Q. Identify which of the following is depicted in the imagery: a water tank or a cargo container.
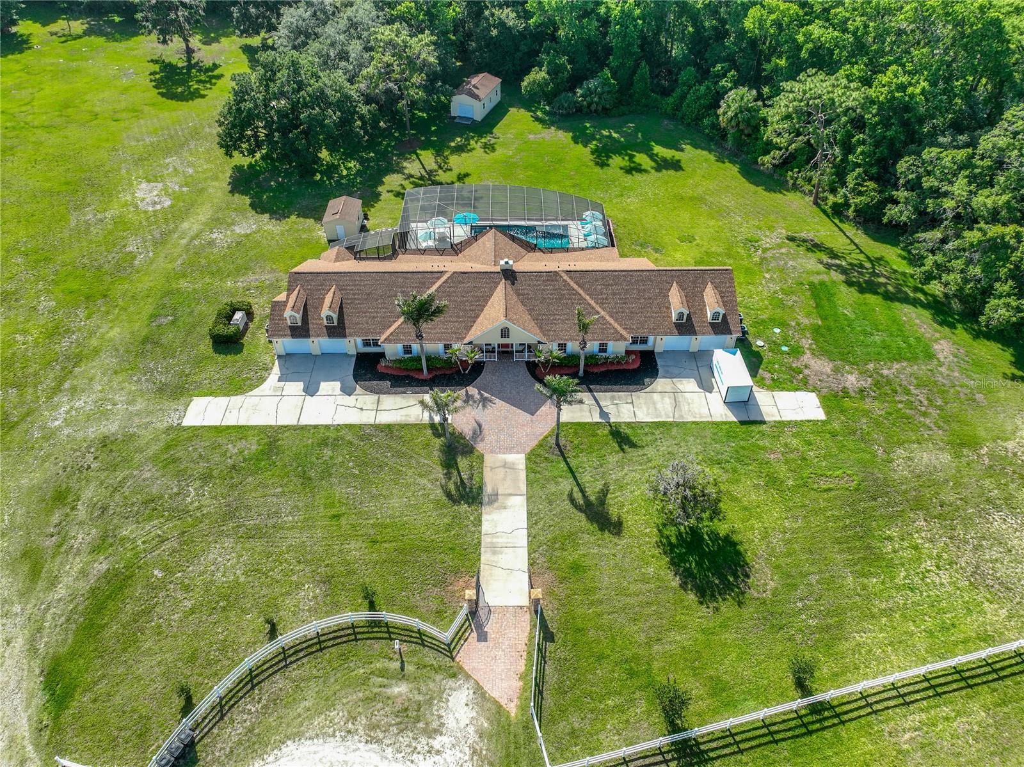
cargo container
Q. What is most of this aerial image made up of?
grass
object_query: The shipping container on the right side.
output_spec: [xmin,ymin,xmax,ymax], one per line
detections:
[713,347,754,402]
